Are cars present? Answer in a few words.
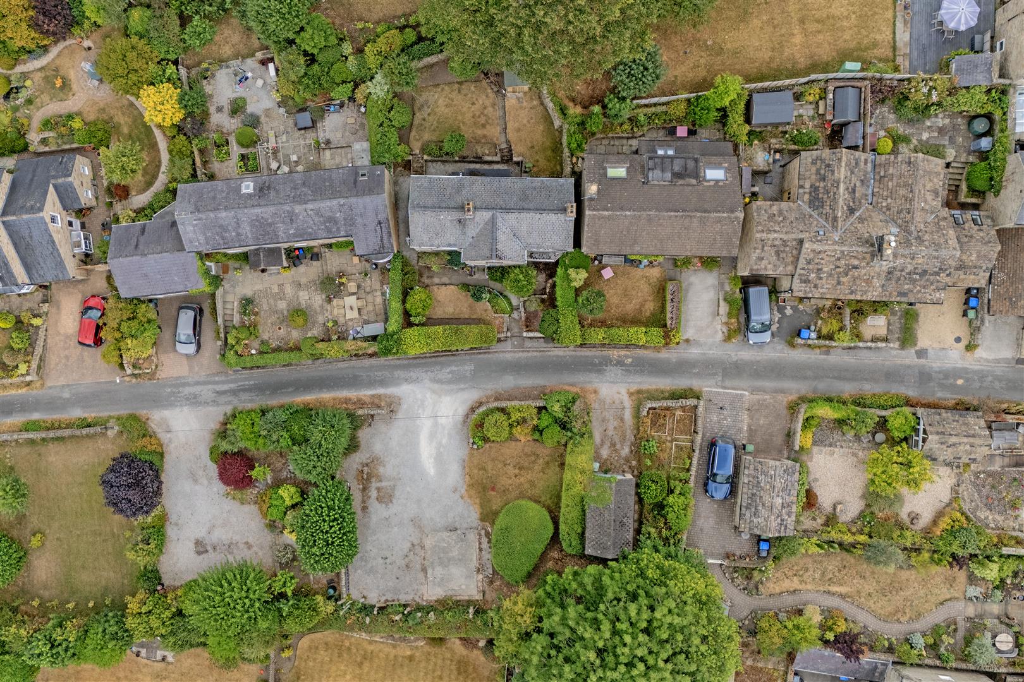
Yes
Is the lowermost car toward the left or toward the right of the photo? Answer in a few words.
right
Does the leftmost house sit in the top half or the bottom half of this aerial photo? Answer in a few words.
top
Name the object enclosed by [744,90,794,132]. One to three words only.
shed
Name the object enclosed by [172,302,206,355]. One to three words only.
car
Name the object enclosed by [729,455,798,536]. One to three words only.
building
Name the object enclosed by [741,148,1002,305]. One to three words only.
house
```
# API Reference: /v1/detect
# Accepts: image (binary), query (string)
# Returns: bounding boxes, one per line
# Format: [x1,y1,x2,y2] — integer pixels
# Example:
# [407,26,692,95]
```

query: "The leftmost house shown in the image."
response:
[0,152,105,297]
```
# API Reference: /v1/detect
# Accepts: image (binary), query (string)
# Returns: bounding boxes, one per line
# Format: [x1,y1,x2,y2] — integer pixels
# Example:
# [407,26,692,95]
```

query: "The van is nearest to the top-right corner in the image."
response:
[741,285,774,344]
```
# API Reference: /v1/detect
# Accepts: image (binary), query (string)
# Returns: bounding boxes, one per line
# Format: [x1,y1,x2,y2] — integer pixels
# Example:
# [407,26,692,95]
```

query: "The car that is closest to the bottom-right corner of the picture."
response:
[705,436,736,499]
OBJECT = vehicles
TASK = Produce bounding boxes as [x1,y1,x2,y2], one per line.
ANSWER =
[172,302,206,355]
[76,296,110,348]
[705,436,736,499]
[741,285,774,344]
